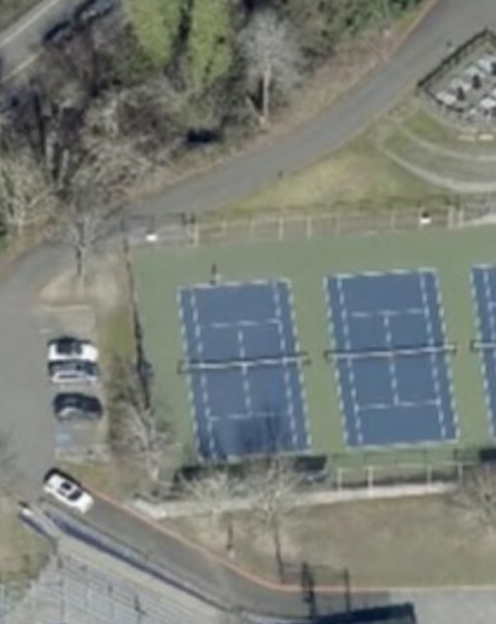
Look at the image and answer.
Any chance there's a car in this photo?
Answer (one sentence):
Yes, looking at the shot, I can spot a car.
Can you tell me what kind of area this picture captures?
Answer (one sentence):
This looks like a sports ground.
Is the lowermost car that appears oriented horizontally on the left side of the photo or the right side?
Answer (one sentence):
It is on the left.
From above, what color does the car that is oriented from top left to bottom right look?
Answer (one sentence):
In this view, the car that is oriented from top left to bottom right is white.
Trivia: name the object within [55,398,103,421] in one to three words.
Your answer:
car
